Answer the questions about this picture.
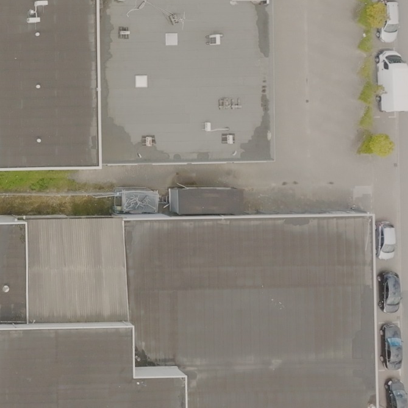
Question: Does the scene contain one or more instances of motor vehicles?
Yes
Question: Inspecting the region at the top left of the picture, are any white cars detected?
No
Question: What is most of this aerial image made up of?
buildings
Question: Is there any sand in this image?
No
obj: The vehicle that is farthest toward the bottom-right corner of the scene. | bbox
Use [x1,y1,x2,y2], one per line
[384,377,408,408]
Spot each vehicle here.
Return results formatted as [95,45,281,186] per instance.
[376,270,401,313]
[377,323,402,370]
[375,0,400,42]
[378,53,408,110]
[384,377,408,408]
[374,221,397,258]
